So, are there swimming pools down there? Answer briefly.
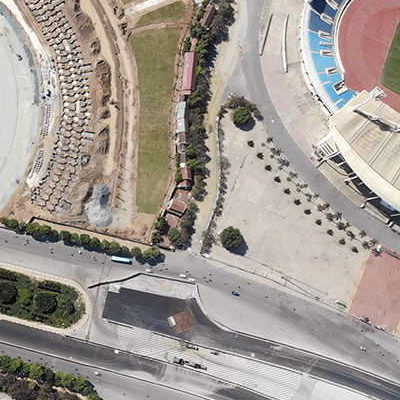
No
